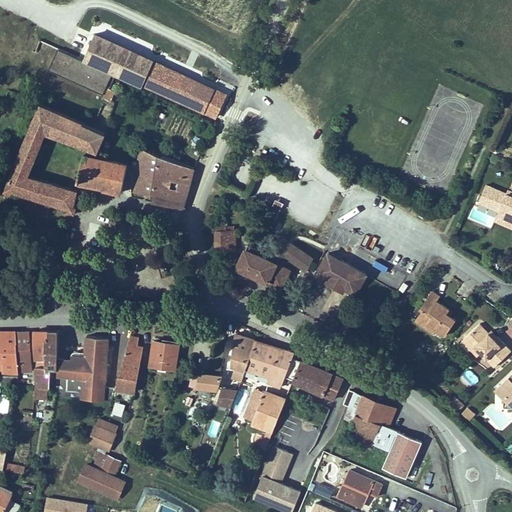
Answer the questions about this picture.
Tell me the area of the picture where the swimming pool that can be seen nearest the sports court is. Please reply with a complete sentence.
Look in the right portion of the view to spot the swimming pool that can be seen nearest the sports court.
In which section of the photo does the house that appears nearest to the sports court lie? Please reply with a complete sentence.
The house that appears nearest to the sports court appears toward the right of the photo.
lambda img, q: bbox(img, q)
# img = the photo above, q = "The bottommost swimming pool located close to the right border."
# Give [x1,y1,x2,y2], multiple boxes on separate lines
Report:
[482,392,512,430]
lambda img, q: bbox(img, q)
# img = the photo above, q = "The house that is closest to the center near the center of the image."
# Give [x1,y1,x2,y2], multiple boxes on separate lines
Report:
[236,249,277,289]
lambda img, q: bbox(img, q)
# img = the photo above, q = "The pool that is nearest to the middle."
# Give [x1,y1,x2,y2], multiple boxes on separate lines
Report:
[233,389,248,414]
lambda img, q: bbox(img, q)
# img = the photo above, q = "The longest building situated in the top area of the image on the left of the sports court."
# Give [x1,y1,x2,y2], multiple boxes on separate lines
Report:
[82,34,227,120]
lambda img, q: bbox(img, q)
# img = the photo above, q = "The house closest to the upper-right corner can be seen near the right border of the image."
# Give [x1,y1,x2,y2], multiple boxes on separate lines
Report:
[478,184,512,231]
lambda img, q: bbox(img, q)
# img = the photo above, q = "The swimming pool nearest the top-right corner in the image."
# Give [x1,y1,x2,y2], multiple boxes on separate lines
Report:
[468,206,494,229]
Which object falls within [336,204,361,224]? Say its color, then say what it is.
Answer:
white vehicle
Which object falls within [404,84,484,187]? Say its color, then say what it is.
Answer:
gray sports court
